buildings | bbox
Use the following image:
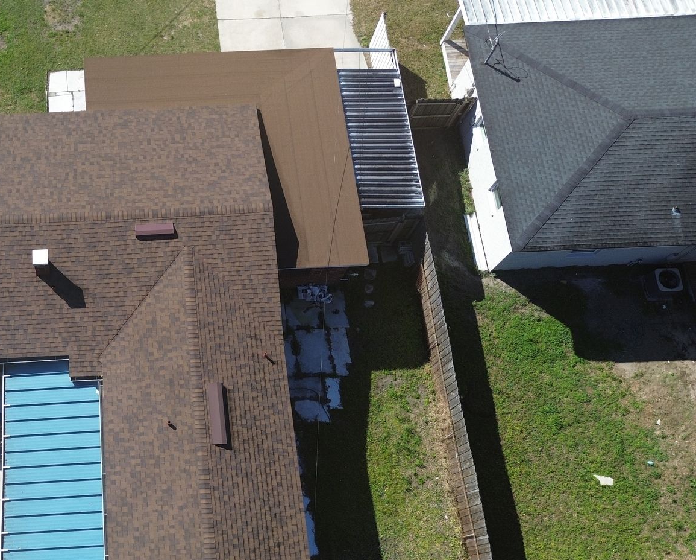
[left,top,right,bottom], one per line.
[438,0,696,272]
[0,52,366,560]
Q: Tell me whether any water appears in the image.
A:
No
